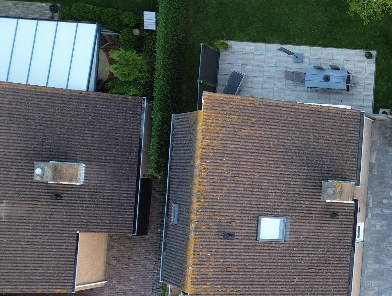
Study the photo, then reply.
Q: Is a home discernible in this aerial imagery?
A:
Yes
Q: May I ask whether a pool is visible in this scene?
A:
No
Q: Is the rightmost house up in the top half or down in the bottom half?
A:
bottom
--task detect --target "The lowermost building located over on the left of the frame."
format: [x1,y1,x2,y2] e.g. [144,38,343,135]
[0,82,153,294]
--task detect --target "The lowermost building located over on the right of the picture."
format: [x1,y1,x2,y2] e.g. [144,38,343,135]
[159,91,373,296]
